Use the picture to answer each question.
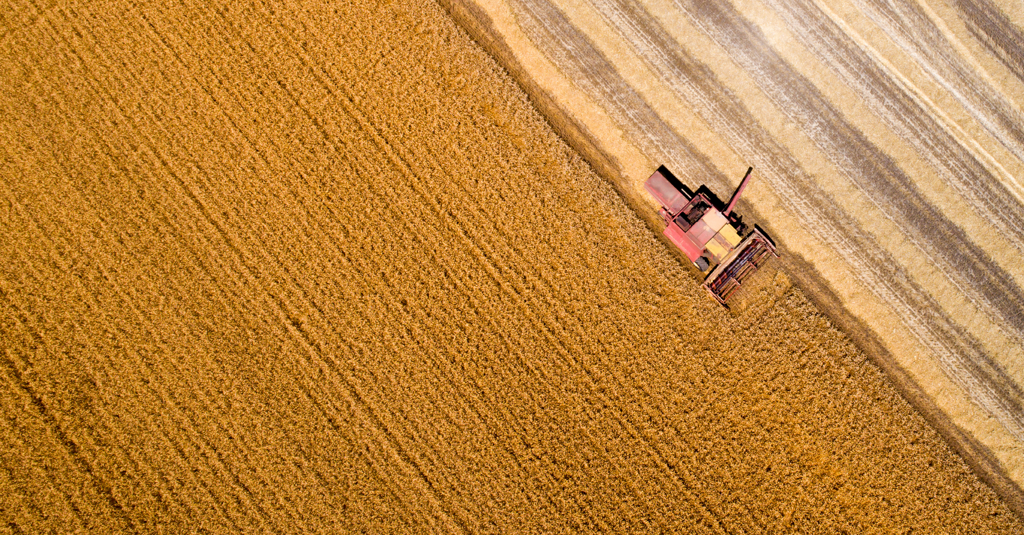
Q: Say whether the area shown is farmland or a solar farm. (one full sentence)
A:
This image shows farmland.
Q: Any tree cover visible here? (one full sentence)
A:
No, the picture contains no tree cover.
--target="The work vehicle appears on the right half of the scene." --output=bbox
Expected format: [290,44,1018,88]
[642,171,782,311]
